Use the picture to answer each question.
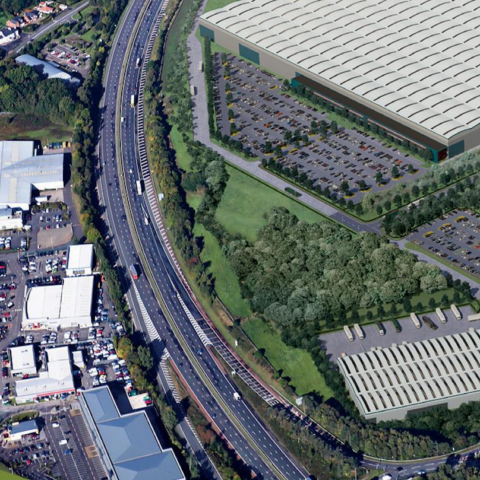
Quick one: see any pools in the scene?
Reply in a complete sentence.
No, I can see no pool in this picture.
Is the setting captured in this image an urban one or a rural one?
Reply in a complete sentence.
This place is urban.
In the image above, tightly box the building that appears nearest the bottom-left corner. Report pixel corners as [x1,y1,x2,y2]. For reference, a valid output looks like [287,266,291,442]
[5,419,39,444]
